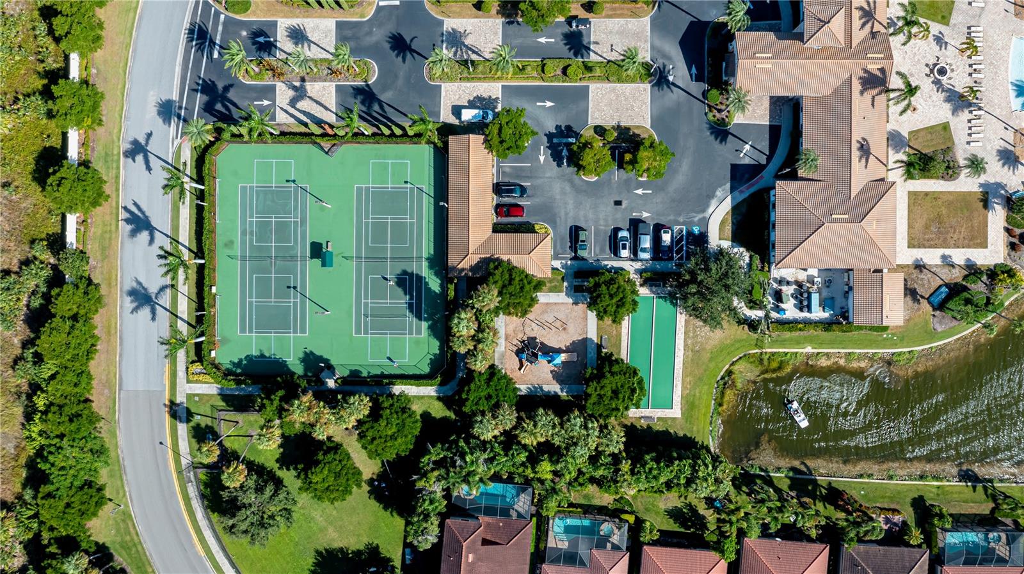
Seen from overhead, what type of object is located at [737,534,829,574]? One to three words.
house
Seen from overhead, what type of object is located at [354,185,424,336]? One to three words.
tennis court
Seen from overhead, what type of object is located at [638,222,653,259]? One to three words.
vehicle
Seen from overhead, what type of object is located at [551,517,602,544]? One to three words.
swimming pool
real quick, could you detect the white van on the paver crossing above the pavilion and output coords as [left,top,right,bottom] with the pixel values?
[461,106,492,122]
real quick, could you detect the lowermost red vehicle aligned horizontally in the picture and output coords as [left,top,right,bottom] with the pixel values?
[496,203,524,217]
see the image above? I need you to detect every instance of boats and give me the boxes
[785,400,809,428]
